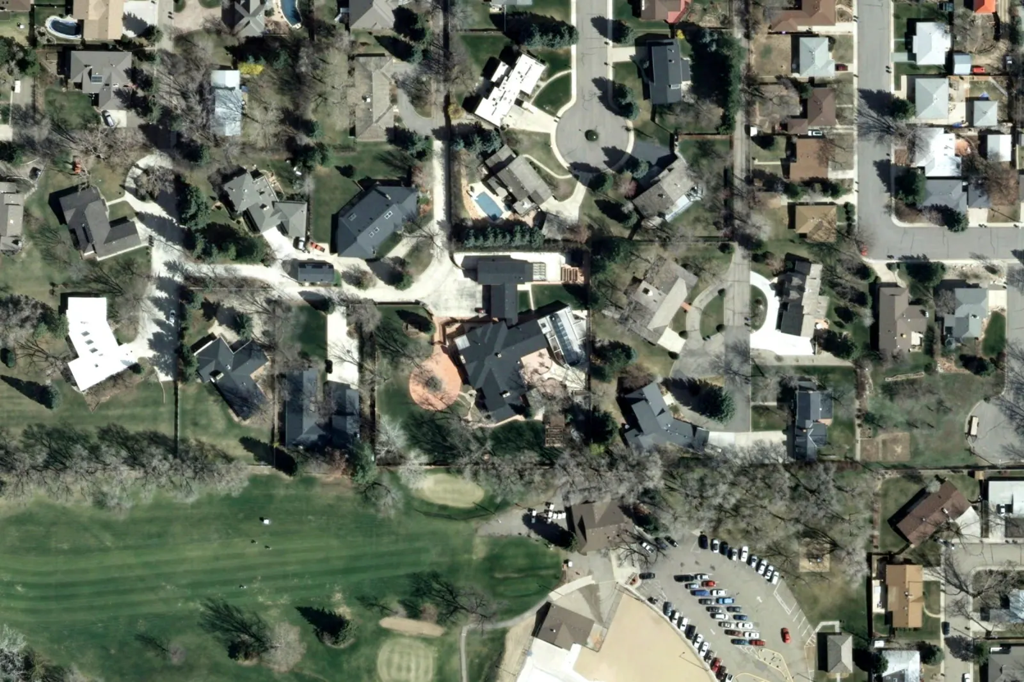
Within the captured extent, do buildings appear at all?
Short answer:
Yes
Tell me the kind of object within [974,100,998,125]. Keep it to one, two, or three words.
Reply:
building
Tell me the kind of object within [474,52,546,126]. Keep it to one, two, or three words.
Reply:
house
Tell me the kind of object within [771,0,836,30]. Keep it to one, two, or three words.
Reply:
house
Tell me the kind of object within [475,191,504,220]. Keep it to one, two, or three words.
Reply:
swimming pool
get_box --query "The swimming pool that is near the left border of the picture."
[50,17,82,37]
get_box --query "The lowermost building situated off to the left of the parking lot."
[536,602,596,655]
